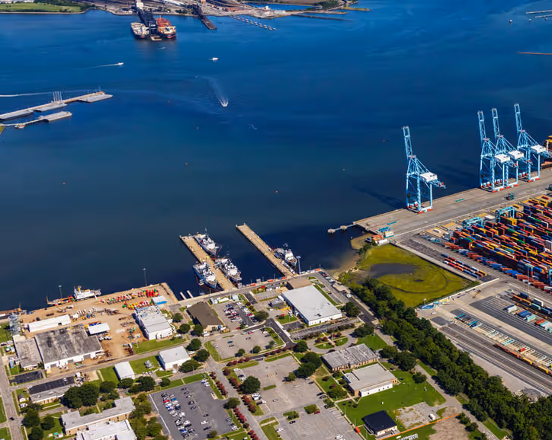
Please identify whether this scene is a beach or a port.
port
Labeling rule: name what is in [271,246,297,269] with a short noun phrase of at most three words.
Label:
ship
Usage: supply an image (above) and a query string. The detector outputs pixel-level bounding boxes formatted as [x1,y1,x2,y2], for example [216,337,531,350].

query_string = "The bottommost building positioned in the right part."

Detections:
[362,410,397,438]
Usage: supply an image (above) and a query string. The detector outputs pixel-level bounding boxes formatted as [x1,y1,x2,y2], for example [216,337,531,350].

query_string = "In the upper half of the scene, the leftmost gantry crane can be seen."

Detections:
[403,127,446,213]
